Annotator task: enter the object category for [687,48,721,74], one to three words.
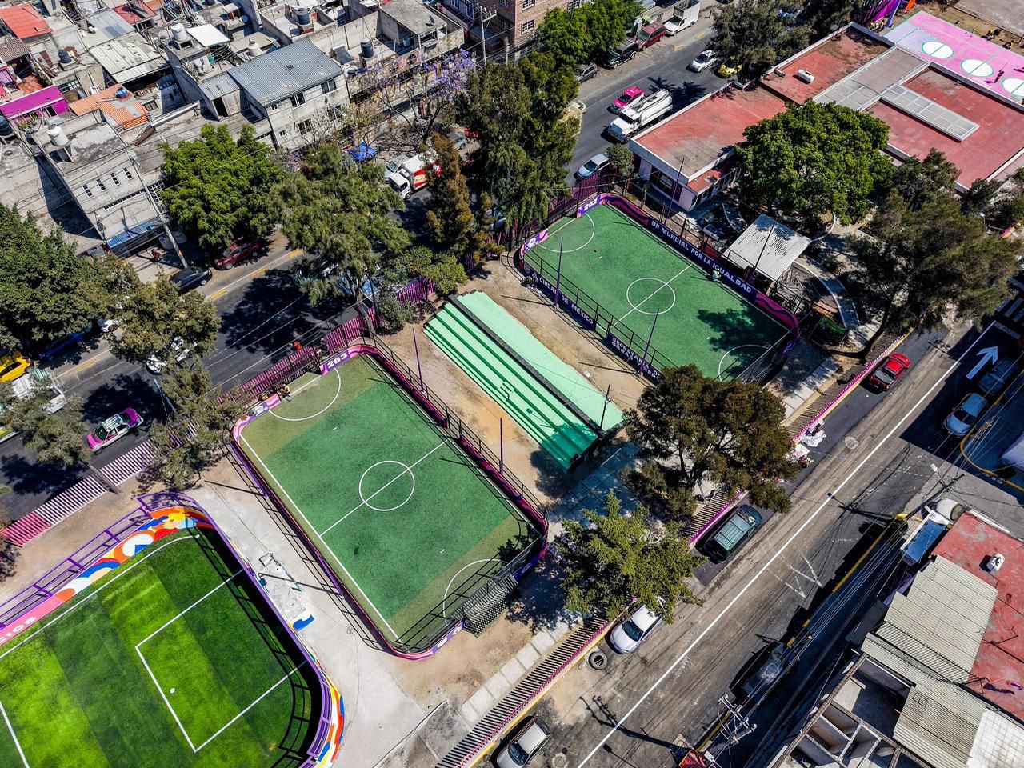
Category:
car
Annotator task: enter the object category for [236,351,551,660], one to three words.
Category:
soccer field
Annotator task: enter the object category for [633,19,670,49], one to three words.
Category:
car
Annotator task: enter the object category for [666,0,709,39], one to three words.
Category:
truck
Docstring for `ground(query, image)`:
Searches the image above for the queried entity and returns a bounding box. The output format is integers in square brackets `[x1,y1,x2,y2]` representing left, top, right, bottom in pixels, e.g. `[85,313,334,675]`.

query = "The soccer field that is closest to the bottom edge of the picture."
[0,526,329,768]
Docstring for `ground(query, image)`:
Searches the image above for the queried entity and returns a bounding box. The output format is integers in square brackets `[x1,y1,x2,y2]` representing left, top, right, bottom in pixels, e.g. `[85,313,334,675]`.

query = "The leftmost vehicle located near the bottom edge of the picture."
[487,711,553,768]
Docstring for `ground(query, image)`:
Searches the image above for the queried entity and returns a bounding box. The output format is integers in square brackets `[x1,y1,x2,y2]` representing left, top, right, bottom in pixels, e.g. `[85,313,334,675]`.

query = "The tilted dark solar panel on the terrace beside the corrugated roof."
[326,40,351,64]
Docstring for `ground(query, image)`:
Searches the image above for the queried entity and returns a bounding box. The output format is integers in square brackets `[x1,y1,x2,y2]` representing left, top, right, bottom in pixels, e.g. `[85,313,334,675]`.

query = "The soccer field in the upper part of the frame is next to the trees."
[518,197,793,400]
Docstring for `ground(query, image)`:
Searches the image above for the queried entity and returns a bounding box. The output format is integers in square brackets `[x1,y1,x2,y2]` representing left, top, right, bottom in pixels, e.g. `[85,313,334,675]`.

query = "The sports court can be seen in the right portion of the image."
[885,10,1024,105]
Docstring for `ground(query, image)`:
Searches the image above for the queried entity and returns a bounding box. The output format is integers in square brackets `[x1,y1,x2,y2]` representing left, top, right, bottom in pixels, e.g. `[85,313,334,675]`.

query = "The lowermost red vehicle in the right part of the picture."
[866,351,913,394]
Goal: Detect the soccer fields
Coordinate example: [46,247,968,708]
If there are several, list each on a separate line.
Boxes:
[236,351,551,660]
[518,197,793,400]
[0,526,329,768]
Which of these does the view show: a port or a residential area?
residential area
